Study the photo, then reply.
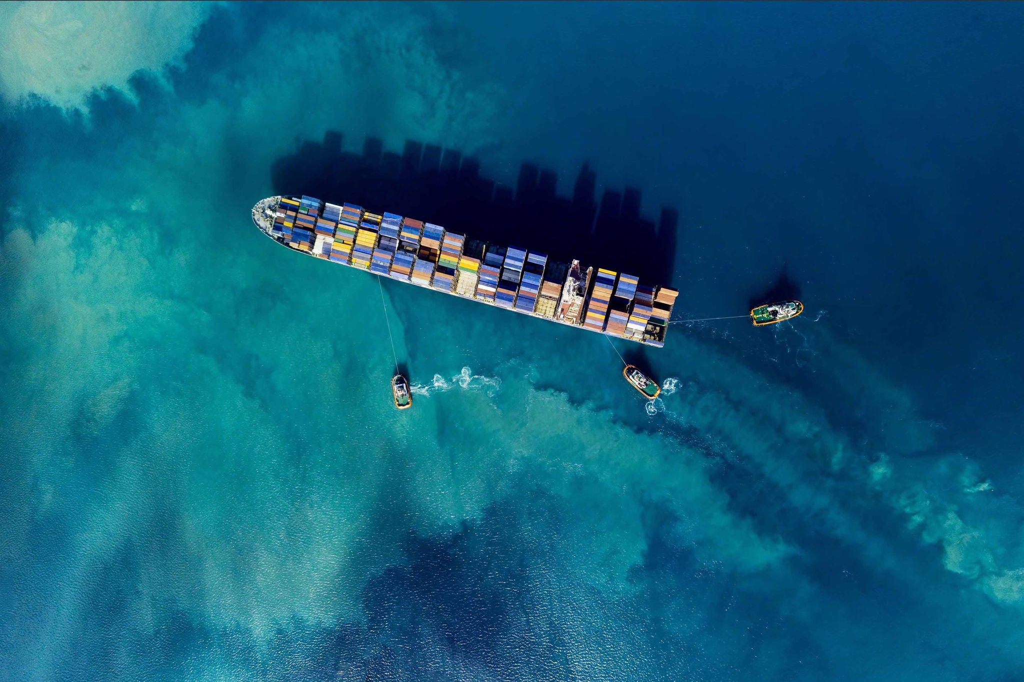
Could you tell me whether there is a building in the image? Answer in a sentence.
No, no building can be seen from above.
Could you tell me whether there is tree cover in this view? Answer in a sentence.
No, there's no tree cover in this view.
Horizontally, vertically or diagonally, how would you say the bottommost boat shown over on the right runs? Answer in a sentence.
The bottommost boat shown over on the right runs diagonally in the image.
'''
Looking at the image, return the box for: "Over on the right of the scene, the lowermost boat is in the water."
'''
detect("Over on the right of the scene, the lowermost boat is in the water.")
[624,363,662,402]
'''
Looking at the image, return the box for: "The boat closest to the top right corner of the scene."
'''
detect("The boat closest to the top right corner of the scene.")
[750,299,804,329]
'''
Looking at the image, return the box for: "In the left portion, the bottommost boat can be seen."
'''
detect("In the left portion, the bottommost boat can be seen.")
[391,373,413,409]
